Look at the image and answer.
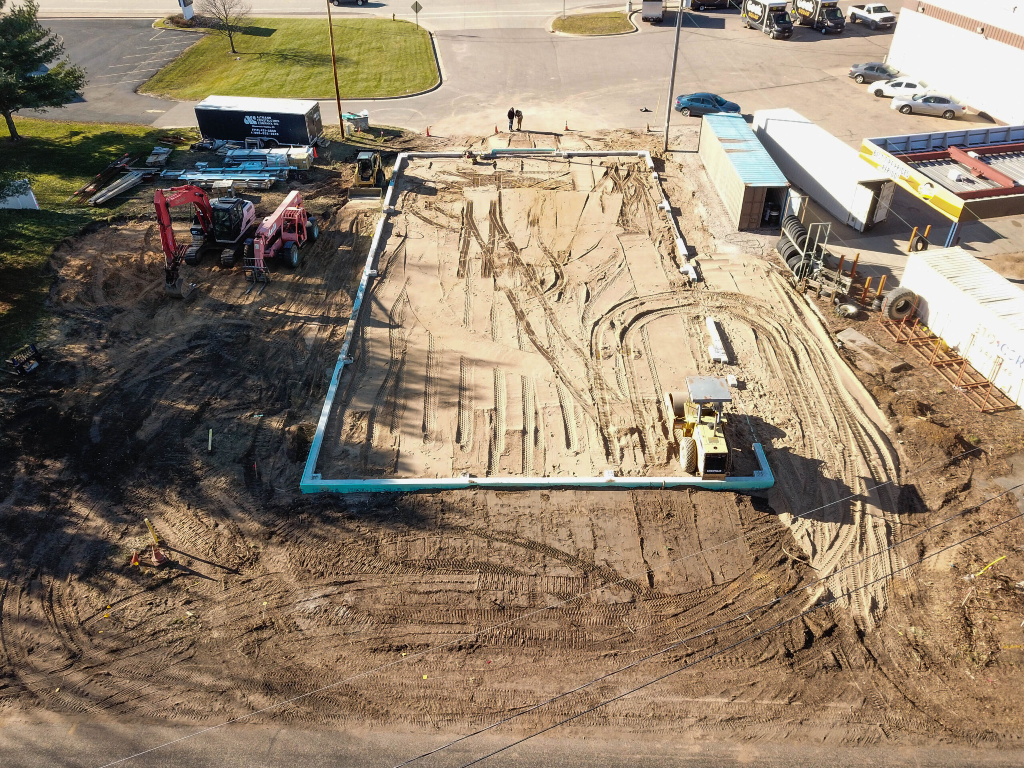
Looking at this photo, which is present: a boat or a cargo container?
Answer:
cargo container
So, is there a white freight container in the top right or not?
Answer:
Yes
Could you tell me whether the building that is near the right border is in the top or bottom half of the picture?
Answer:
top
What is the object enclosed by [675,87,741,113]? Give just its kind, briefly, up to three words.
car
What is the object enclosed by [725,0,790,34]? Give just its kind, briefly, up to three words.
van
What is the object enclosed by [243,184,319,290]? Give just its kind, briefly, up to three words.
work vehicle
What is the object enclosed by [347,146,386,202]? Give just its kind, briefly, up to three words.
work vehicle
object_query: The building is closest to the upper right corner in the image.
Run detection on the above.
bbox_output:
[887,0,1024,124]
